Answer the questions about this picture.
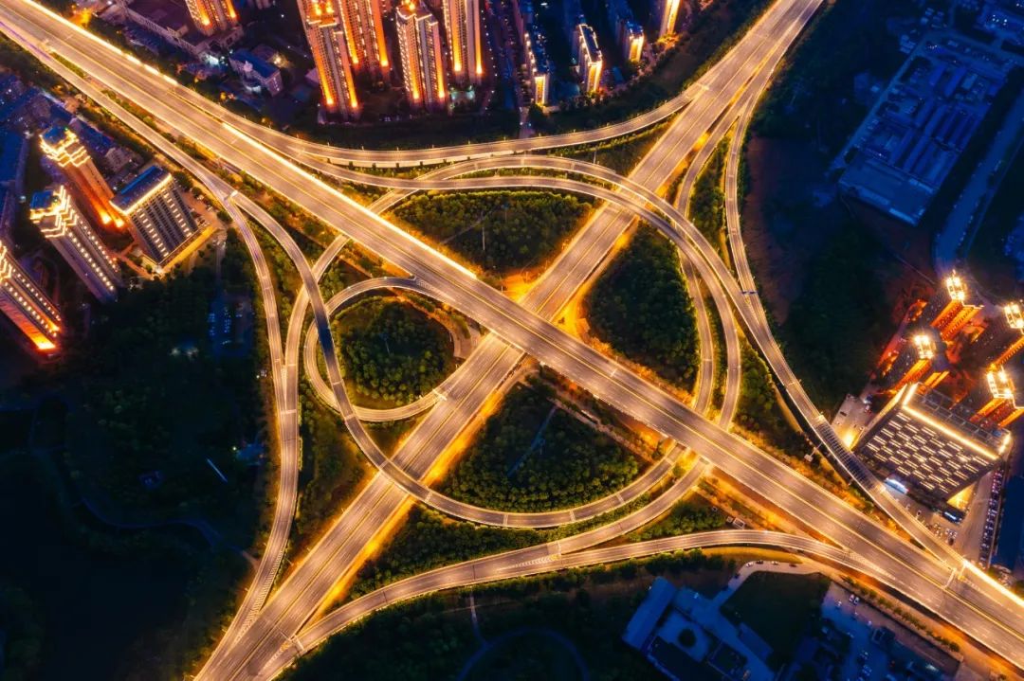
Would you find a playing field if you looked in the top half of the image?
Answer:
No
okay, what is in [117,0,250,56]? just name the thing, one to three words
building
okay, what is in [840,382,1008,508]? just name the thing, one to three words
building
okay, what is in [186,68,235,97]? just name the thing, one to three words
shed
